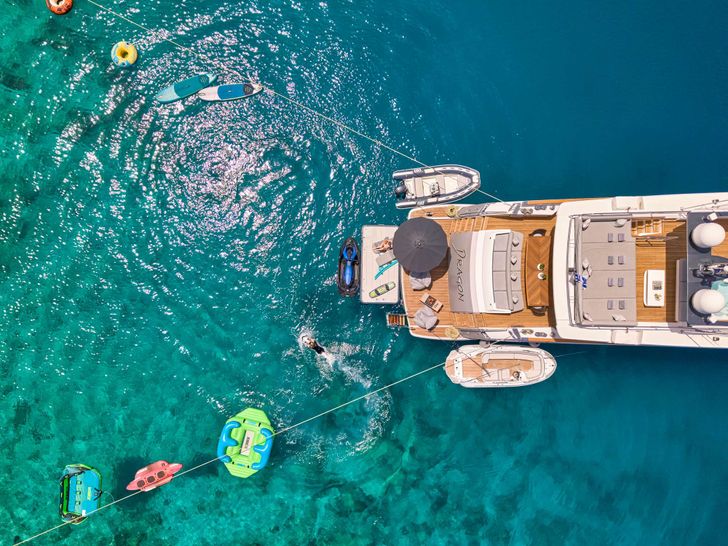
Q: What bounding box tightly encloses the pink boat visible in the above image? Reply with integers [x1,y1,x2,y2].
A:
[124,460,181,493]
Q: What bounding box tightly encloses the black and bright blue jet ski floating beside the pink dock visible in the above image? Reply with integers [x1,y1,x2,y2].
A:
[337,237,359,296]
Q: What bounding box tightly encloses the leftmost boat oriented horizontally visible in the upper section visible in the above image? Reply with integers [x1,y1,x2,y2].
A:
[384,166,481,210]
